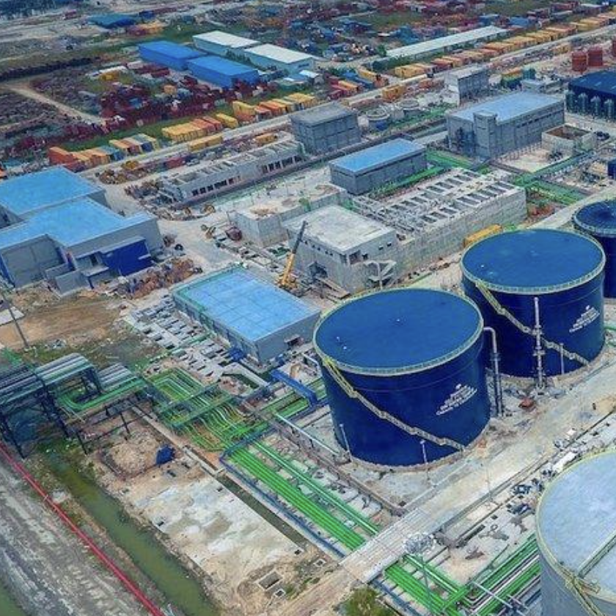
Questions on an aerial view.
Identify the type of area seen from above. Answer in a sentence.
What you see here is an industrial area.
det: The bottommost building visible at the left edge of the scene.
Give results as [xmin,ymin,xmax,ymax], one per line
[0,202,165,290]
